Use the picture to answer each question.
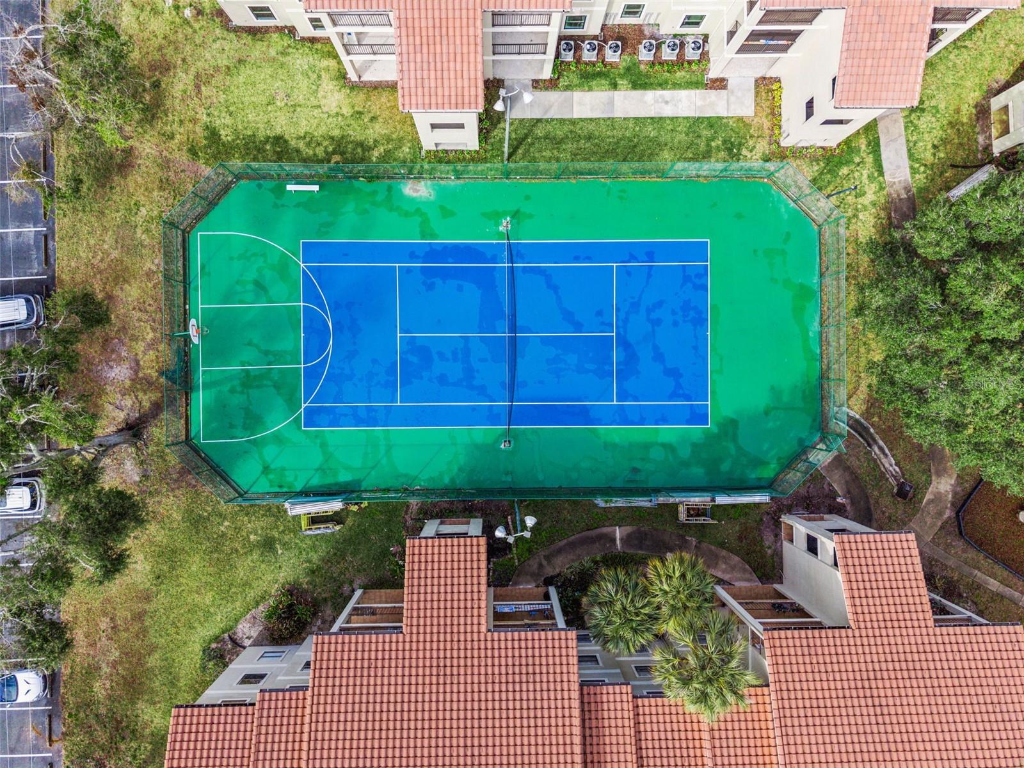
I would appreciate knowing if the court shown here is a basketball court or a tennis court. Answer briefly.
tennis court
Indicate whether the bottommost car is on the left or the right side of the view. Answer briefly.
left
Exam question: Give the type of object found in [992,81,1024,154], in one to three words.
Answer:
building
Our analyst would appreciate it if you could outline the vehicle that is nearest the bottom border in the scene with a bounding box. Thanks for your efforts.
[0,663,55,706]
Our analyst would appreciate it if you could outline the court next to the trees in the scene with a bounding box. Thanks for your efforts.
[189,181,820,494]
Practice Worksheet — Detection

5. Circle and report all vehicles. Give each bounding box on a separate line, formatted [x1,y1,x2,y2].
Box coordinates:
[0,477,49,513]
[0,663,55,706]
[0,295,49,333]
